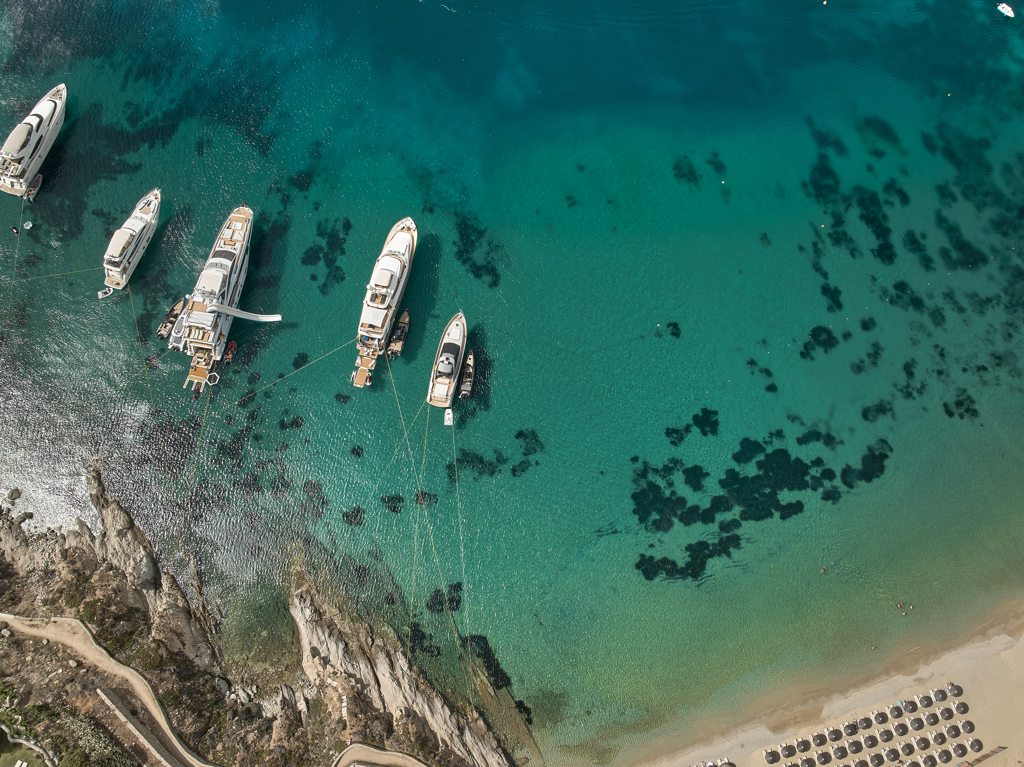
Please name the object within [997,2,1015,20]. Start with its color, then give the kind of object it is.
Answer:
white boat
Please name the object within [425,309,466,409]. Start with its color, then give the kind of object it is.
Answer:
white boat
